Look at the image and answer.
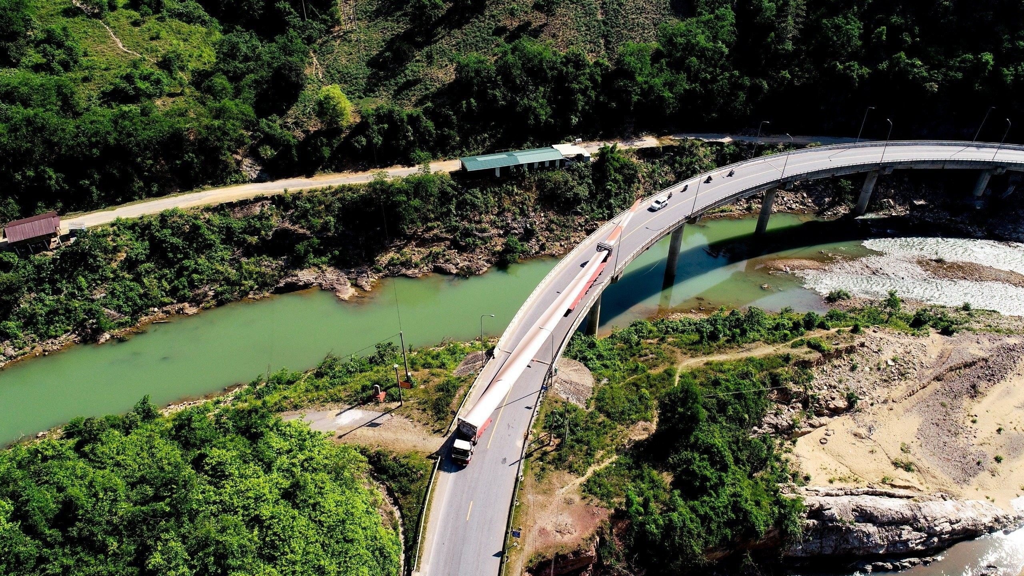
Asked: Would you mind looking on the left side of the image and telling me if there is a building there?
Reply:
Yes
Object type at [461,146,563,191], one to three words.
house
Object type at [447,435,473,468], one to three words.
truck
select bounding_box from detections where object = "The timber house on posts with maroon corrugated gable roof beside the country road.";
[1,219,69,262]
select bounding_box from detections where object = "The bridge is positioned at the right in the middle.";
[491,141,1024,384]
